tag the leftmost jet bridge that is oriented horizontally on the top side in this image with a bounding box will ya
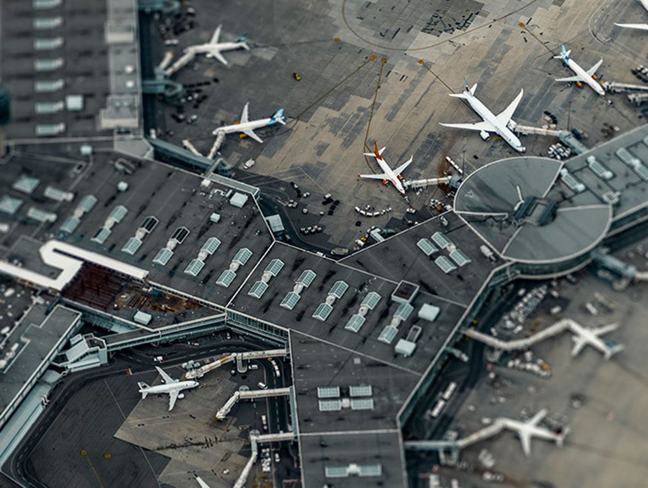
[406,176,458,195]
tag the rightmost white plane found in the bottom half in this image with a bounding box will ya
[568,319,622,360]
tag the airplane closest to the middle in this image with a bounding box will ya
[360,145,412,195]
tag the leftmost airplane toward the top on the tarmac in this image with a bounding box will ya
[187,25,246,64]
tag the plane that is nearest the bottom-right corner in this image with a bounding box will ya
[505,408,567,454]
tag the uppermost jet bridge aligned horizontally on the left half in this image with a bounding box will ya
[181,350,288,381]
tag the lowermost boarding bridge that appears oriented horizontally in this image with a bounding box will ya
[403,416,506,453]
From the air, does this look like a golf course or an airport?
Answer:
airport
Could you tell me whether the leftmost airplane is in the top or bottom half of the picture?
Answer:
bottom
